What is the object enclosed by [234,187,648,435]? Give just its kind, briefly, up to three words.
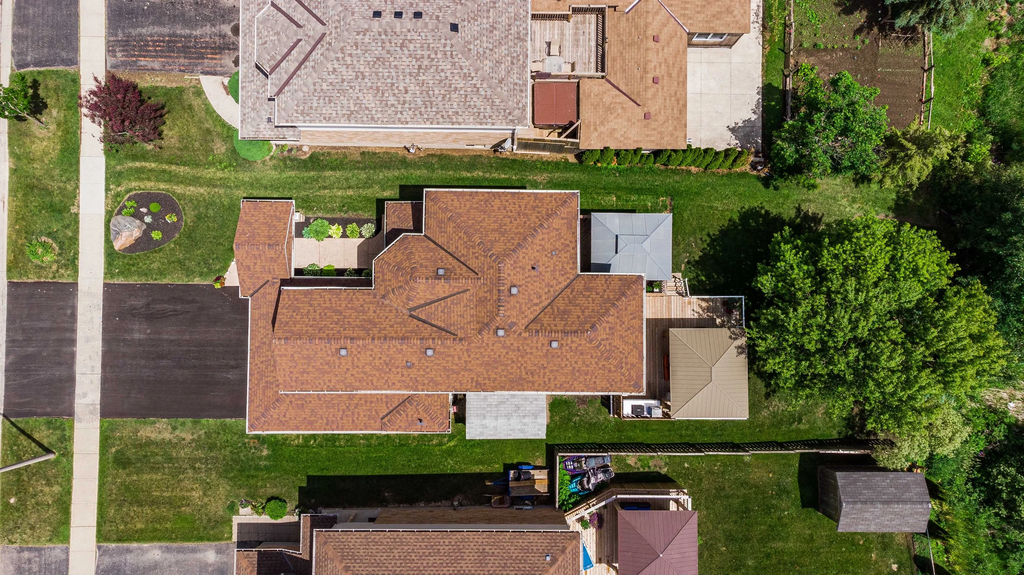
house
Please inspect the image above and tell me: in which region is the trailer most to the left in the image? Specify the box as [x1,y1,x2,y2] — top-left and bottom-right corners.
[484,462,550,502]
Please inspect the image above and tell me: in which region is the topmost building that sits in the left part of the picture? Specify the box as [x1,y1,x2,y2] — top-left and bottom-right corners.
[238,0,532,150]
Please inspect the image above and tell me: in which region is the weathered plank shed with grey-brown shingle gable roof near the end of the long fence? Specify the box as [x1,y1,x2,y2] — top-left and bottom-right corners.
[818,466,932,532]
